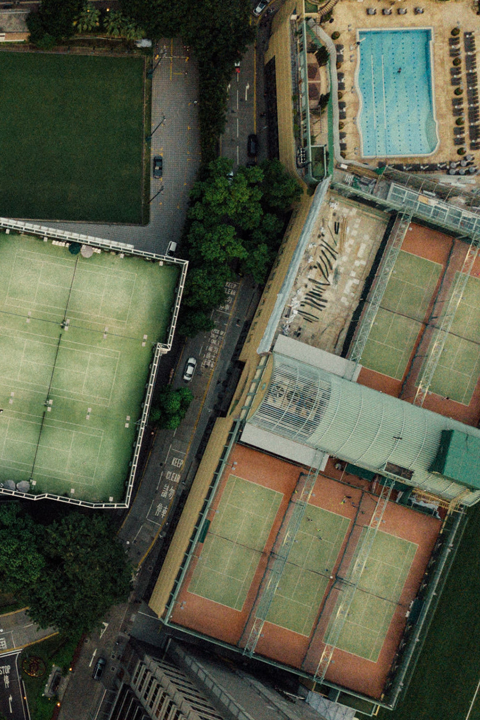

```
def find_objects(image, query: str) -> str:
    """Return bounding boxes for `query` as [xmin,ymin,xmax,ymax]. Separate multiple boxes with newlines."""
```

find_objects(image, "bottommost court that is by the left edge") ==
[0,409,103,485]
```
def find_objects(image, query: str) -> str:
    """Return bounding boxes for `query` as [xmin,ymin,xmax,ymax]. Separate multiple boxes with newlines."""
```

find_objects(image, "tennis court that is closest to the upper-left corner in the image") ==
[5,249,136,329]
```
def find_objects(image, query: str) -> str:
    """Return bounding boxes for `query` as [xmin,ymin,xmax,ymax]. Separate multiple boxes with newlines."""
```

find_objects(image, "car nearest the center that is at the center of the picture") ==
[182,358,196,381]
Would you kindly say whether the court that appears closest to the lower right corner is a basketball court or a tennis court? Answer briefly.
tennis court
